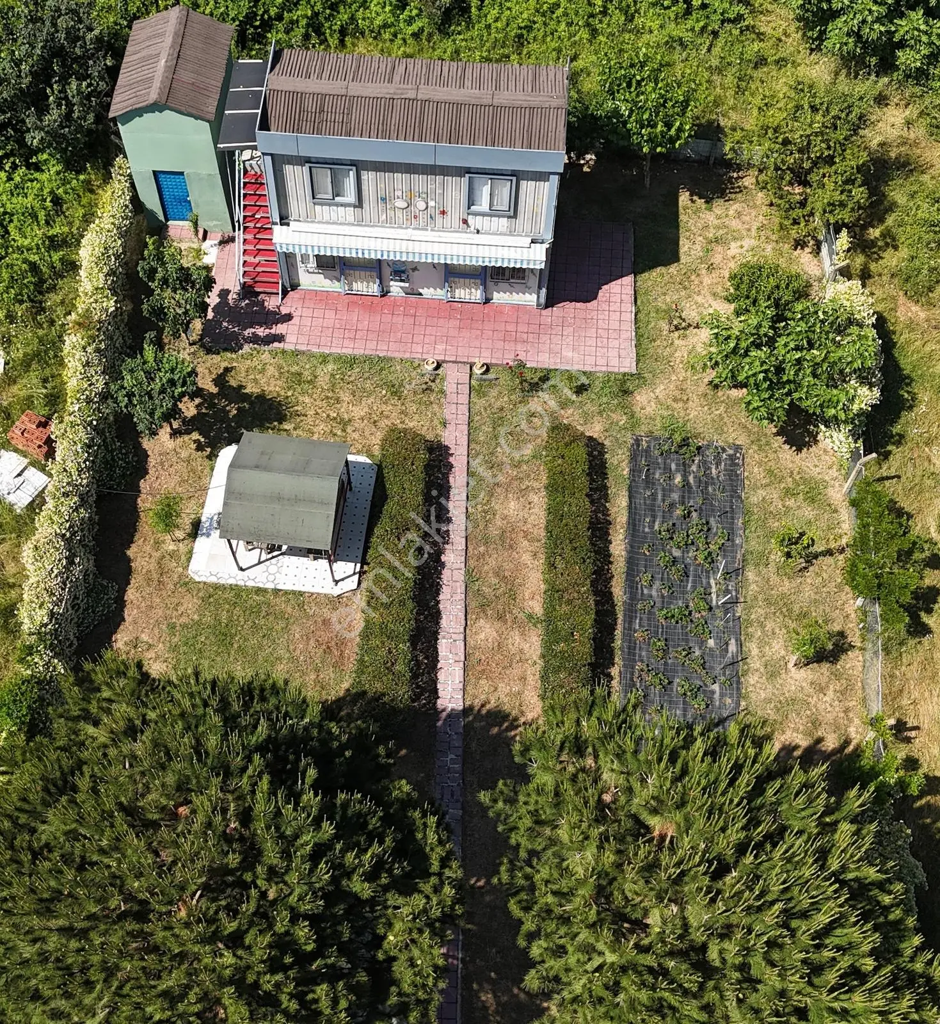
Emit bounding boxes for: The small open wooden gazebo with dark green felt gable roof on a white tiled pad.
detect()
[218,429,353,582]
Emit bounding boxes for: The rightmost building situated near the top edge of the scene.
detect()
[257,33,572,307]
